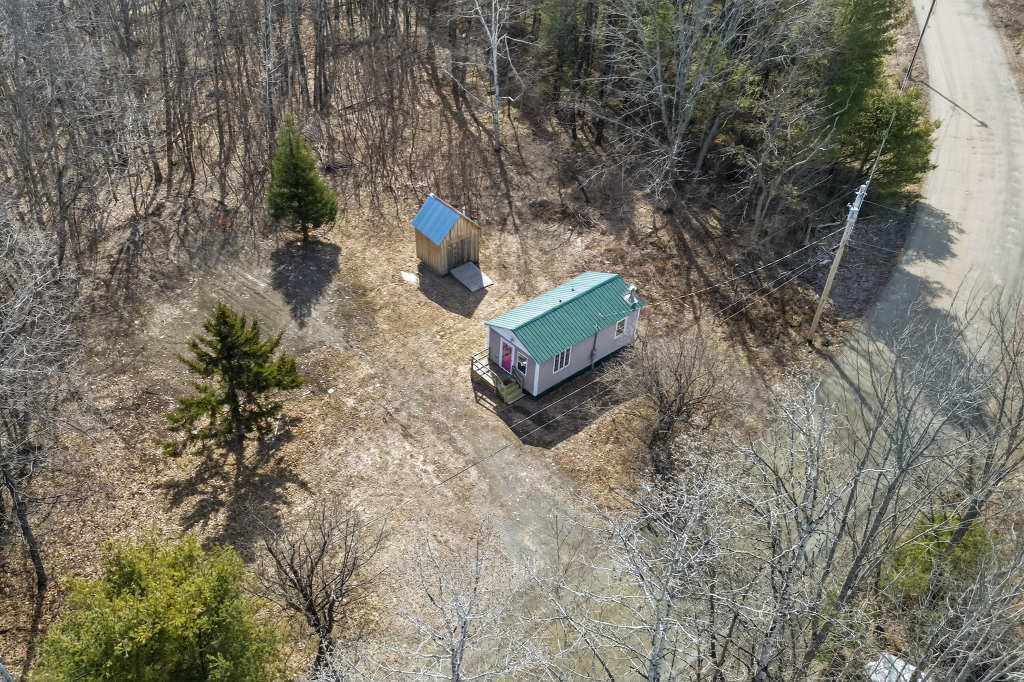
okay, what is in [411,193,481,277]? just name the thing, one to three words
shed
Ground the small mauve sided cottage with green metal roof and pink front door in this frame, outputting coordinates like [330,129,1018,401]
[484,271,645,400]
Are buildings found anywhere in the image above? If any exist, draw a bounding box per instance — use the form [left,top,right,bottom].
[484,271,645,400]
[411,193,481,277]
